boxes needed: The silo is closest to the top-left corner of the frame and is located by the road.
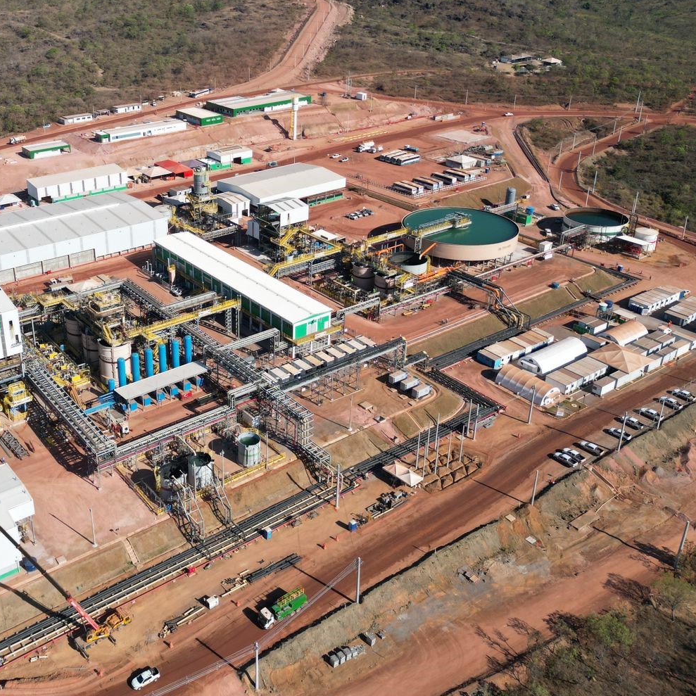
[181,166,211,216]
